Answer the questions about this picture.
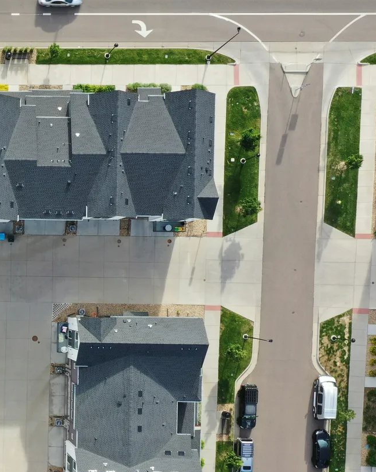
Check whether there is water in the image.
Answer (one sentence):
No, the picture contains no water.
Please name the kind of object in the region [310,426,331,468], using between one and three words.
car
